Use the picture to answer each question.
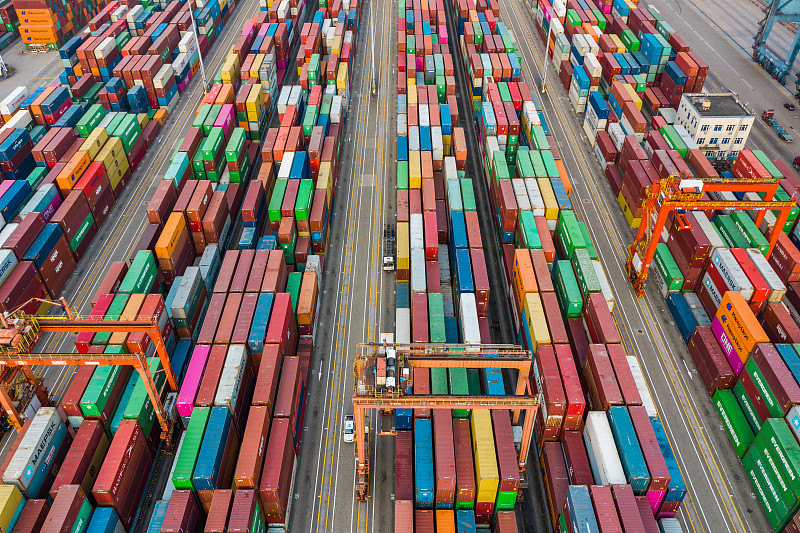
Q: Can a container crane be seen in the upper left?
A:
No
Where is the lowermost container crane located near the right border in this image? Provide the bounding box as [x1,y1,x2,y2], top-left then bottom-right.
[620,175,791,292]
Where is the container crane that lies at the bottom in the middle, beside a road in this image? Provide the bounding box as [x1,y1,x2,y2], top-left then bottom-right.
[349,345,547,506]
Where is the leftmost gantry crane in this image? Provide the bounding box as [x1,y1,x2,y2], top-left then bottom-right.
[0,299,184,460]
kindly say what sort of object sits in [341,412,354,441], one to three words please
vehicle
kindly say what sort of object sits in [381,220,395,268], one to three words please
vehicle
